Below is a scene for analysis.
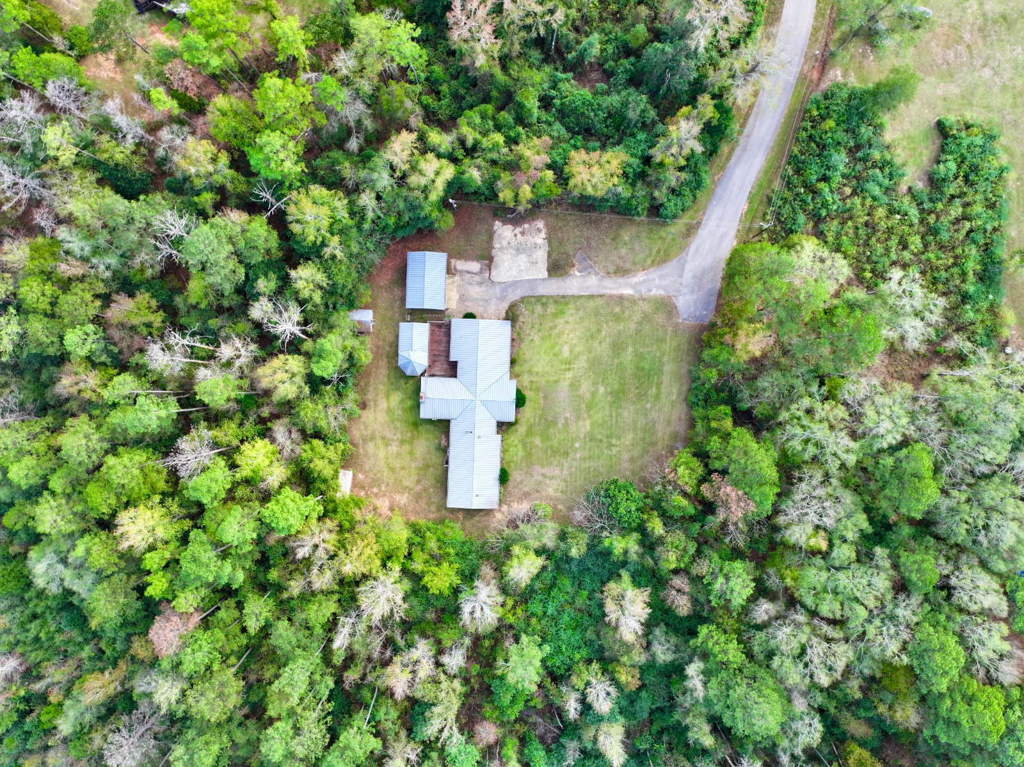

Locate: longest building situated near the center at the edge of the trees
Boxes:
[419,318,517,509]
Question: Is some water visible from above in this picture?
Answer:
No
